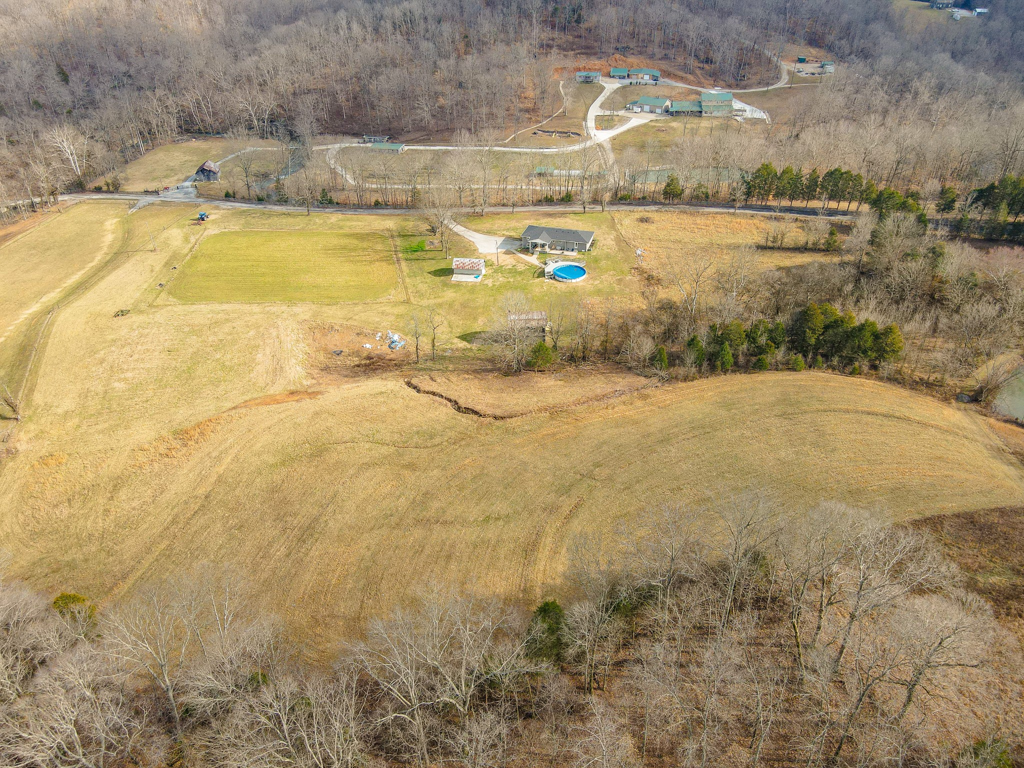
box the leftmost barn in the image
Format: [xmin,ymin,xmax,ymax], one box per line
[190,157,222,182]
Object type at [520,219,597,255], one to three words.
house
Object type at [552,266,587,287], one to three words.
swimming pool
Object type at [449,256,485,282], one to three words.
shed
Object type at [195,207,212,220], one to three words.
vehicle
